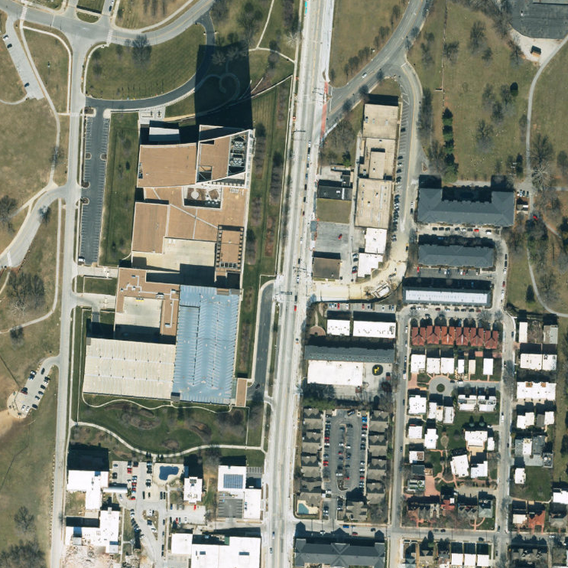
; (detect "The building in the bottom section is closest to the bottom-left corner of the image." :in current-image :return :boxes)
[66,526,100,545]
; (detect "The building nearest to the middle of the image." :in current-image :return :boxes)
[313,257,341,279]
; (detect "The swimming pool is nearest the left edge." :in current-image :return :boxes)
[159,465,179,480]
